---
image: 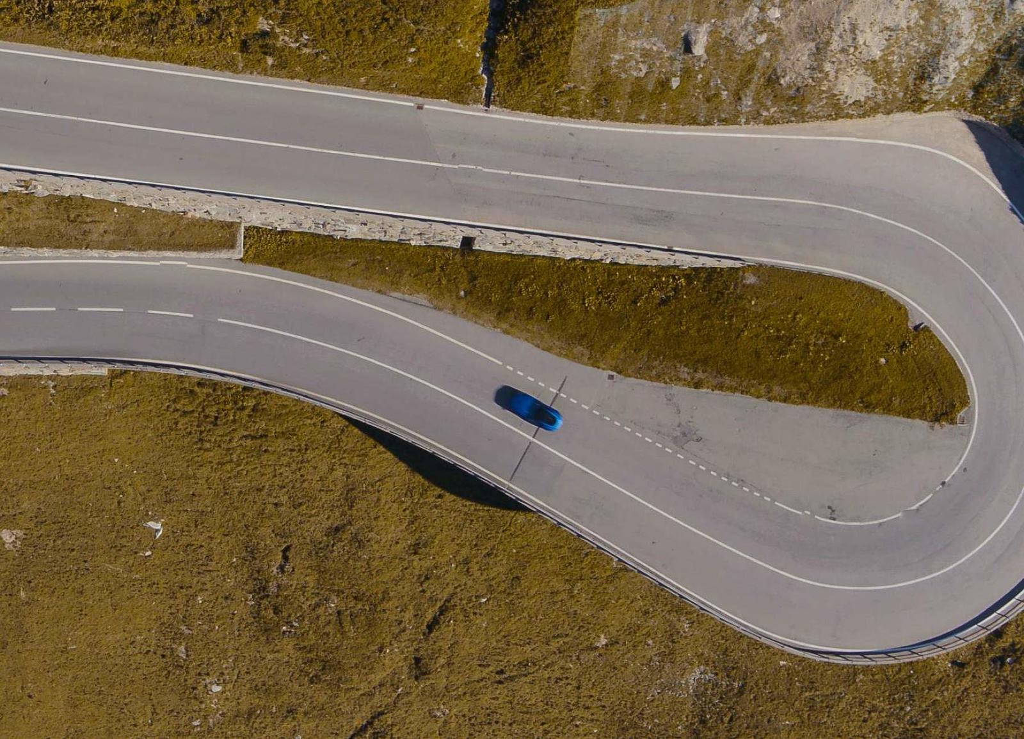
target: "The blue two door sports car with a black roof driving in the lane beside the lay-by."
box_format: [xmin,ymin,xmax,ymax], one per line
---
[511,393,565,433]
